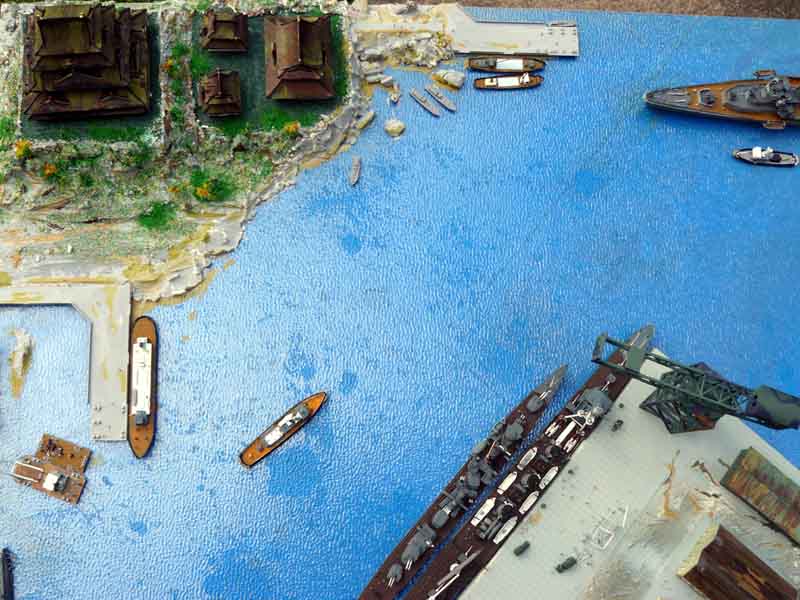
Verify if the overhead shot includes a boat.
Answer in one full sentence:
Yes, the photo shows a boat.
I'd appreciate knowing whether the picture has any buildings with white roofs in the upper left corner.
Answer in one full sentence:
No, no building with a white roof can be made out in the upper left corner.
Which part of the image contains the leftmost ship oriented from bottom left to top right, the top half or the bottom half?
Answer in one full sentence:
It is in the bottom half that the leftmost ship oriented from bottom left to top right appears.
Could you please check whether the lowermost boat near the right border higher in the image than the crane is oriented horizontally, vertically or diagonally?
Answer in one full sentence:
In this picture, the lowermost boat near the right border higher in the image than the crane is oriented horizontally.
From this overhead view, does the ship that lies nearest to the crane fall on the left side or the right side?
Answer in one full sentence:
The ship that lies nearest to the crane is on the right side of the image.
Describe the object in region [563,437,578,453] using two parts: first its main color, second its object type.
white boat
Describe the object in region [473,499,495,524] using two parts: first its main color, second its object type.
white boat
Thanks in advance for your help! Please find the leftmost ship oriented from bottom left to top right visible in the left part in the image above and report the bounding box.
[240,393,327,468]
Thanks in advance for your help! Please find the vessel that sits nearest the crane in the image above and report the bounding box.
[405,326,652,600]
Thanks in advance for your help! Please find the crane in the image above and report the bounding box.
[589,334,800,436]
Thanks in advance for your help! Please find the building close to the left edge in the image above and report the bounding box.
[22,5,148,116]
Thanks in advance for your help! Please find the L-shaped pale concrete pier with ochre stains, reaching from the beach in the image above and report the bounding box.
[0,282,134,441]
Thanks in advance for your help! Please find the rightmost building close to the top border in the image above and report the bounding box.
[264,8,338,105]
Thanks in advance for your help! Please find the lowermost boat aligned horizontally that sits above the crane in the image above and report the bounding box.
[730,148,799,167]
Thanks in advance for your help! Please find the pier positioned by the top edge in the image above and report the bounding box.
[448,5,580,60]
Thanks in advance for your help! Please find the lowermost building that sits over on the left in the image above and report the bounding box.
[195,62,243,119]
